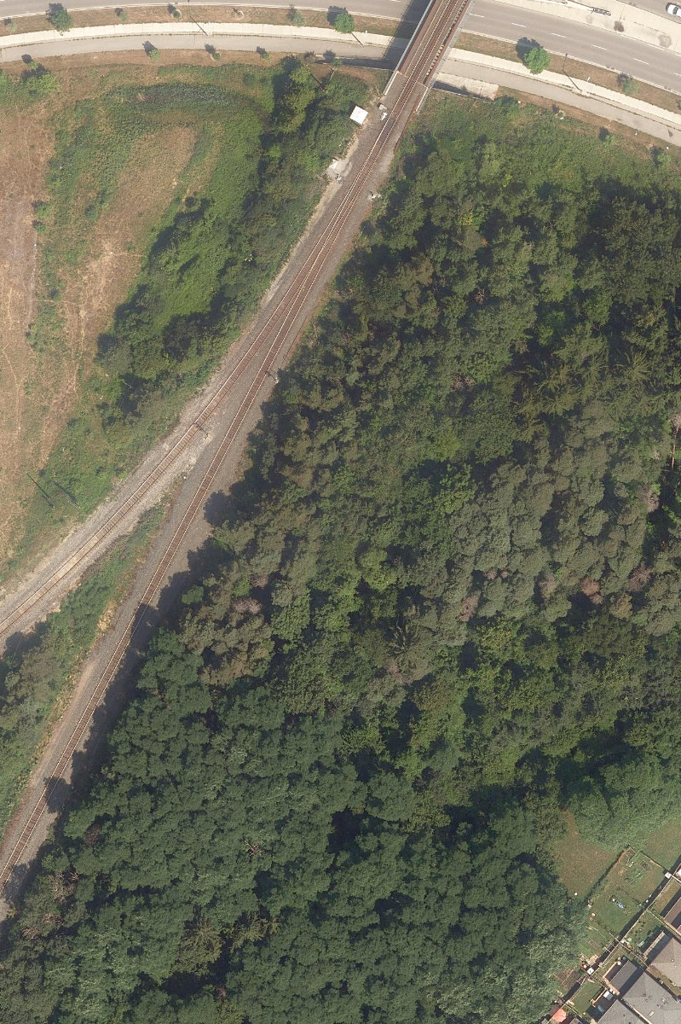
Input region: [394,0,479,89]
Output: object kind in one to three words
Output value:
bridge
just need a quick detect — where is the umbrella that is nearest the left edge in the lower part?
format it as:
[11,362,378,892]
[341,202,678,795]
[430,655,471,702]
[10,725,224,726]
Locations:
[553,1008,567,1022]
